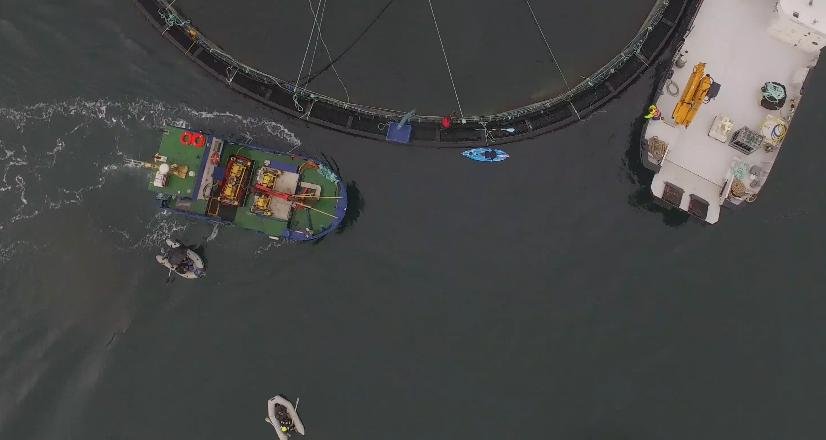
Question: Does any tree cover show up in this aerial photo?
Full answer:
No, no tree cover is visible.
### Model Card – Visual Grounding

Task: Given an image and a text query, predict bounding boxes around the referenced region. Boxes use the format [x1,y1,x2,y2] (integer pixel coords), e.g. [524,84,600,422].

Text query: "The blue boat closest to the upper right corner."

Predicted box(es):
[461,148,510,161]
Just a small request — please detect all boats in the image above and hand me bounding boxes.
[120,127,352,238]
[269,395,305,440]
[461,148,510,161]
[633,0,826,220]
[153,238,205,279]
